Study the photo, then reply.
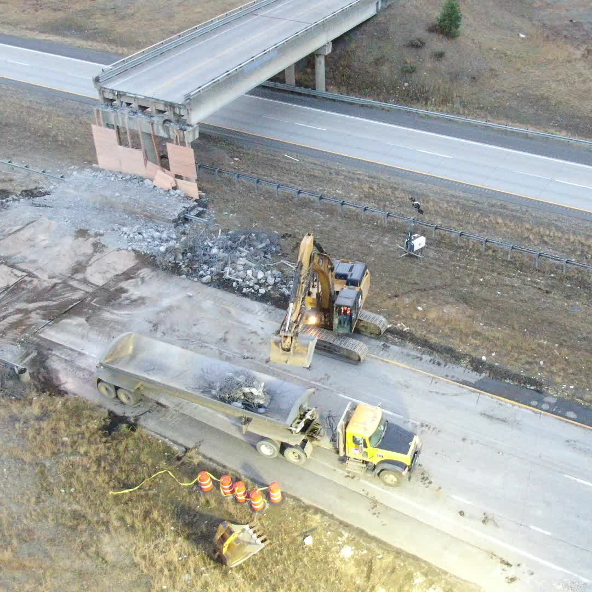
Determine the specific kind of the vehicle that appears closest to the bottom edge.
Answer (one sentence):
The vehicle that appears closest to the bottom edge appears to be a truck.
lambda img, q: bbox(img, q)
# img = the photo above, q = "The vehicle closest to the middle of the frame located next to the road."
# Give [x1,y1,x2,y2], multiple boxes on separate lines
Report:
[270,231,384,372]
